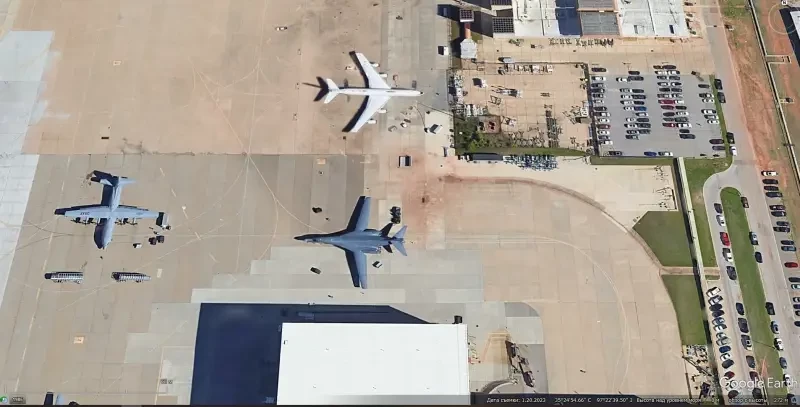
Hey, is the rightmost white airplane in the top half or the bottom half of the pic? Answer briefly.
top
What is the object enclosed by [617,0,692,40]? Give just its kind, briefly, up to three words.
building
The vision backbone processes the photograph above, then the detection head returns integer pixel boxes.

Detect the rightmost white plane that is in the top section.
[324,53,423,131]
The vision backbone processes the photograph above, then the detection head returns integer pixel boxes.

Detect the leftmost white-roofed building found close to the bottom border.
[278,322,470,407]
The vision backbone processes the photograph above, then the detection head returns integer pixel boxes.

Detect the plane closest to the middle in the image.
[303,196,408,289]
